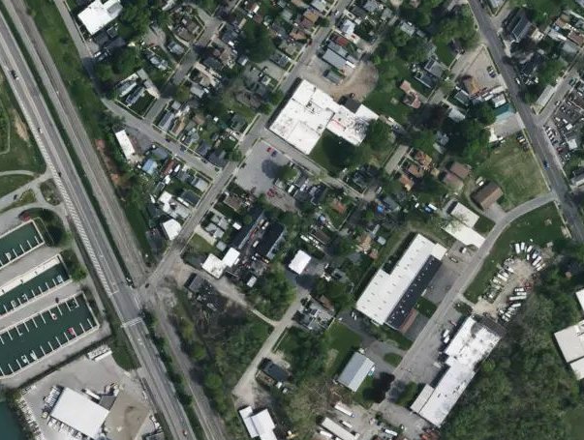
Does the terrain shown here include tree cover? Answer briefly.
Yes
